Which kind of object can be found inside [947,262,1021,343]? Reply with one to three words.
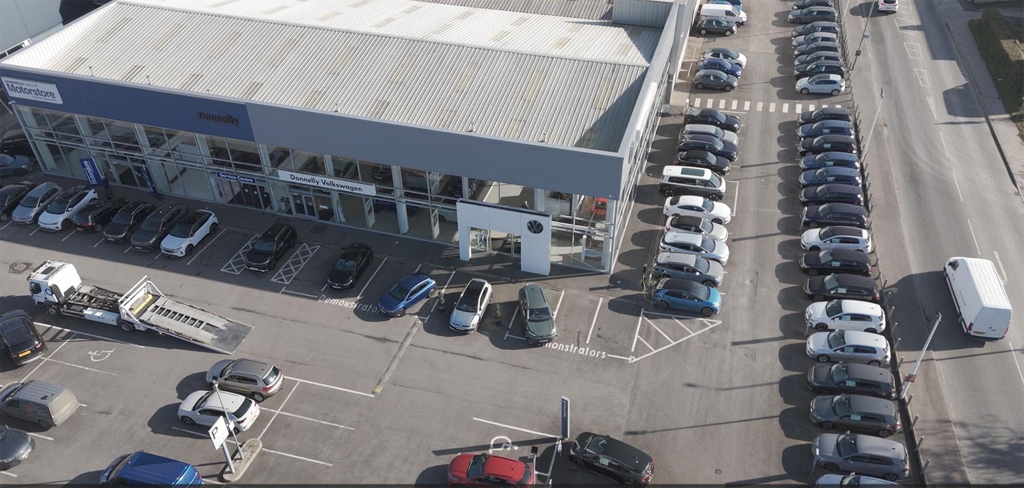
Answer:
van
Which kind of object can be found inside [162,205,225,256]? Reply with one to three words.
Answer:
car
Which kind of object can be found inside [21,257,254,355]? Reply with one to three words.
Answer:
truck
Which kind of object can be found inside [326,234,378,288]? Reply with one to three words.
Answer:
car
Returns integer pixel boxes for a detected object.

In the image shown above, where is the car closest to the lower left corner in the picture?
[0,421,37,470]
